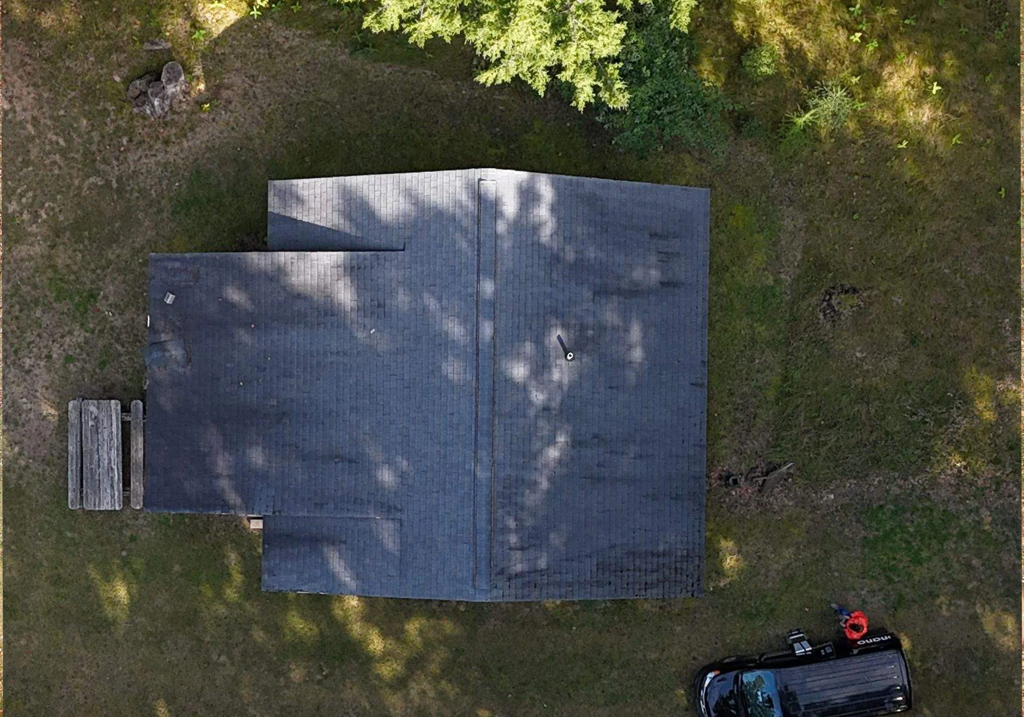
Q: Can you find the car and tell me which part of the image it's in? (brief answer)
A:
bottom right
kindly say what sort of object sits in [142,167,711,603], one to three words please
house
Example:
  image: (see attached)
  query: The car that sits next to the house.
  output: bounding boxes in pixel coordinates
[691,626,912,717]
